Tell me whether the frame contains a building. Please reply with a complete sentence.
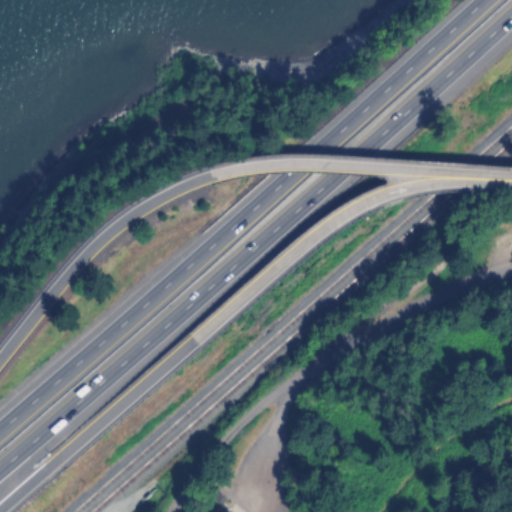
No, the picture doesn't show any building.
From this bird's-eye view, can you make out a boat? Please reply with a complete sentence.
No, this view has no boat in it.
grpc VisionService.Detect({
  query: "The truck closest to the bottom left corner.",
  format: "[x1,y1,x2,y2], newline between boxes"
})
[50,412,74,435]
